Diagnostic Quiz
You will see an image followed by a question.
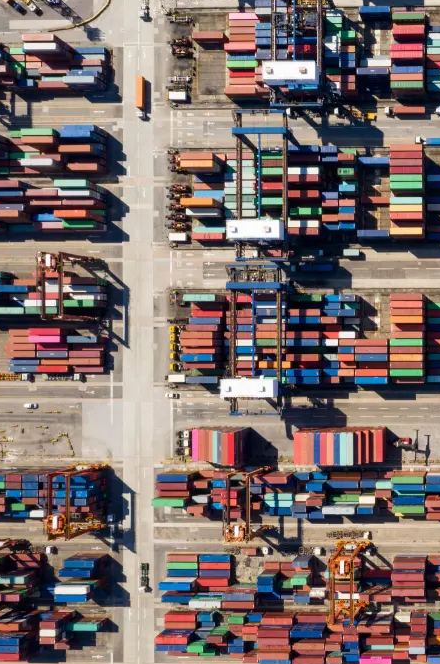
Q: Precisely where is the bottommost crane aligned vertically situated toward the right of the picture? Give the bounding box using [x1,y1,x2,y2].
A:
[328,539,370,627]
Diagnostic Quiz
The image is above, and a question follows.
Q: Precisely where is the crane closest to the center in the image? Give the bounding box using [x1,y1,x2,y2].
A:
[221,264,304,417]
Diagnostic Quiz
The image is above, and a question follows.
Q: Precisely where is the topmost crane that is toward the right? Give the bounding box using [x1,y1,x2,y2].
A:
[263,0,341,110]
